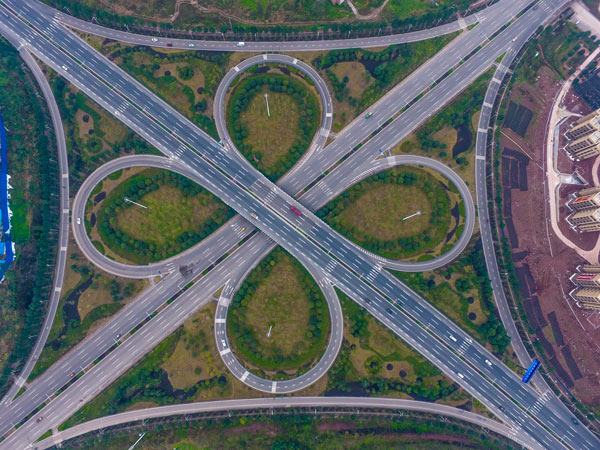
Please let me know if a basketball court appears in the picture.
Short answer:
No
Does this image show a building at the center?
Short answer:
No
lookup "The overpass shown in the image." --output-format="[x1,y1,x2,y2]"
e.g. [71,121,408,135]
[233,175,315,253]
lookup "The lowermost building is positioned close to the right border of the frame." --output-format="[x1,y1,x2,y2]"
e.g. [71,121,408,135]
[568,262,600,311]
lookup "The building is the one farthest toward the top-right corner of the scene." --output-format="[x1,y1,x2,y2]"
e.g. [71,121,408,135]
[562,111,600,162]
